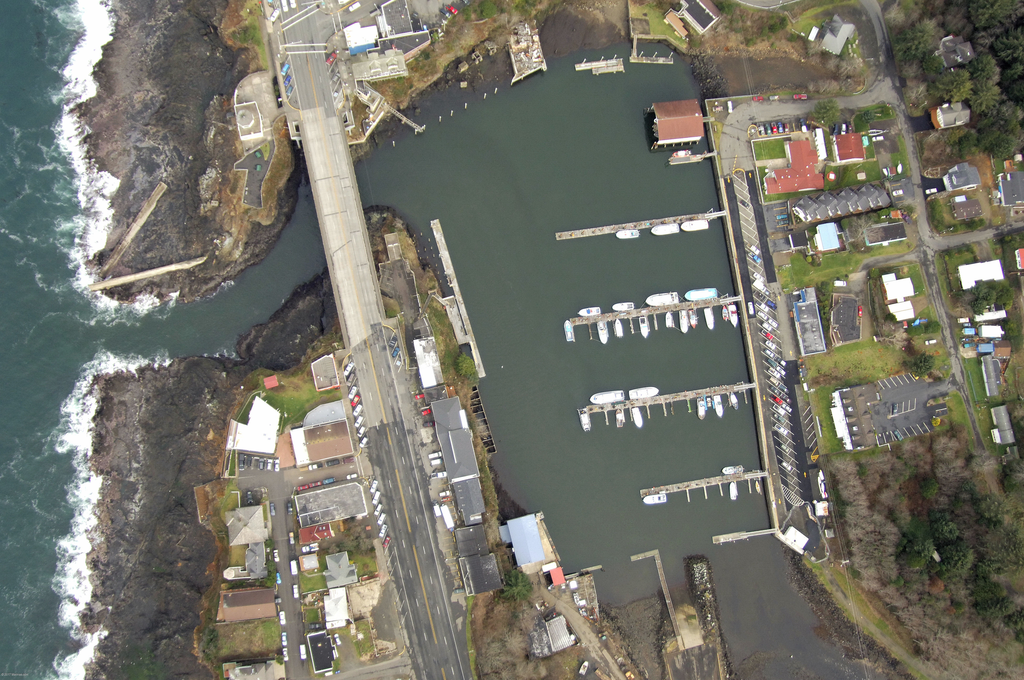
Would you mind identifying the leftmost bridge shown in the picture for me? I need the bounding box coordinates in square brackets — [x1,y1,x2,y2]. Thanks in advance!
[287,106,387,348]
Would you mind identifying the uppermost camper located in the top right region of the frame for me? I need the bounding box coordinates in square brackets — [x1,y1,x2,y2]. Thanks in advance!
[806,24,820,43]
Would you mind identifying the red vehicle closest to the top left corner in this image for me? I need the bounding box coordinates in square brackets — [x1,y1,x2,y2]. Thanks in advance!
[325,51,338,66]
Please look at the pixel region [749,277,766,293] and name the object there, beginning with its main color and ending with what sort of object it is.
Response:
white camper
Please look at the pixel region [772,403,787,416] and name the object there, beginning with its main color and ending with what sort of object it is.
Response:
white vehicle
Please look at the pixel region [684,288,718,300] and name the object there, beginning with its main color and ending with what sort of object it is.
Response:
white boat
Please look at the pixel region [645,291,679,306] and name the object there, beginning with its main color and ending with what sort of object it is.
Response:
white boat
